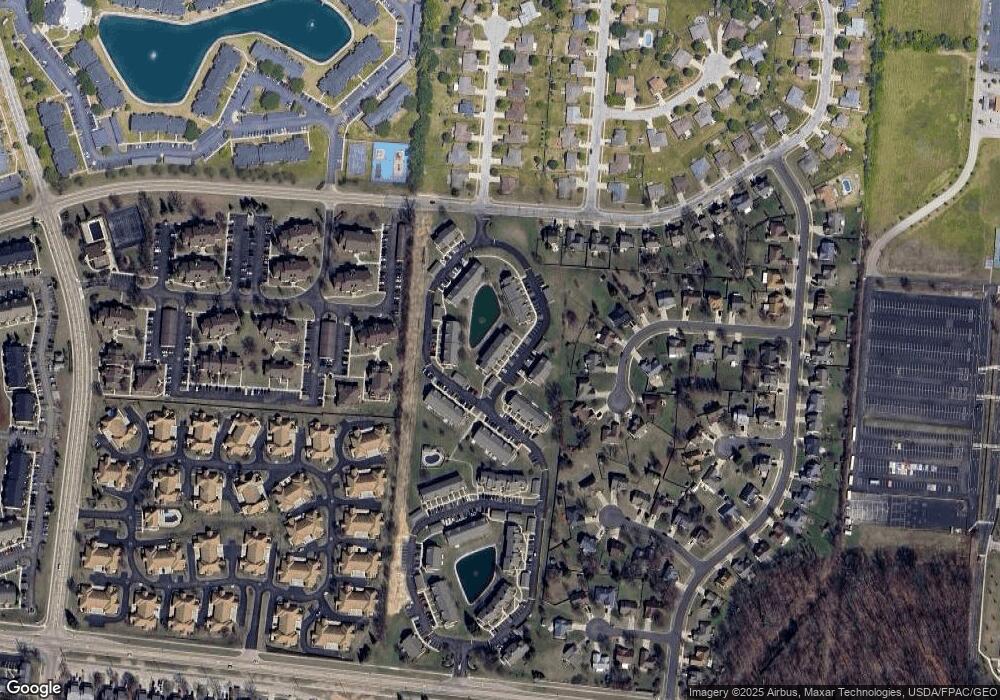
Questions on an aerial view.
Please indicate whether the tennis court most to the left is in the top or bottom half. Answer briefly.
top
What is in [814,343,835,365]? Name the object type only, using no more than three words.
house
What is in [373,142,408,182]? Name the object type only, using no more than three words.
sports court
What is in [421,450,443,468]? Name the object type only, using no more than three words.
swimming pool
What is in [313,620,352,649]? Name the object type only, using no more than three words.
building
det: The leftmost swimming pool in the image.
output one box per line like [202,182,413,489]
[85,218,107,243]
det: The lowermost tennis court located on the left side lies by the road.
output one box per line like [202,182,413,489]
[107,209,145,249]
